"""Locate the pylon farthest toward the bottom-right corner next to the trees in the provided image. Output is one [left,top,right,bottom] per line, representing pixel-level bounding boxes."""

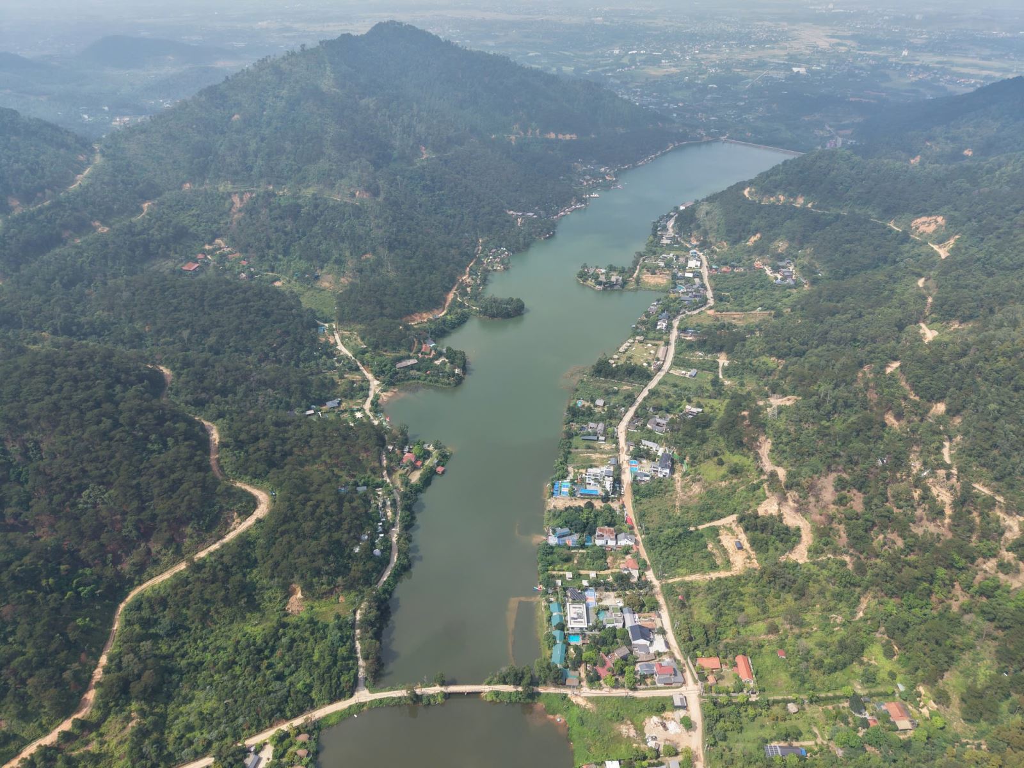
[768,391,786,422]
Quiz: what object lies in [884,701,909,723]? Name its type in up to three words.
house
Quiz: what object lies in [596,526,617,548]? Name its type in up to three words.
house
